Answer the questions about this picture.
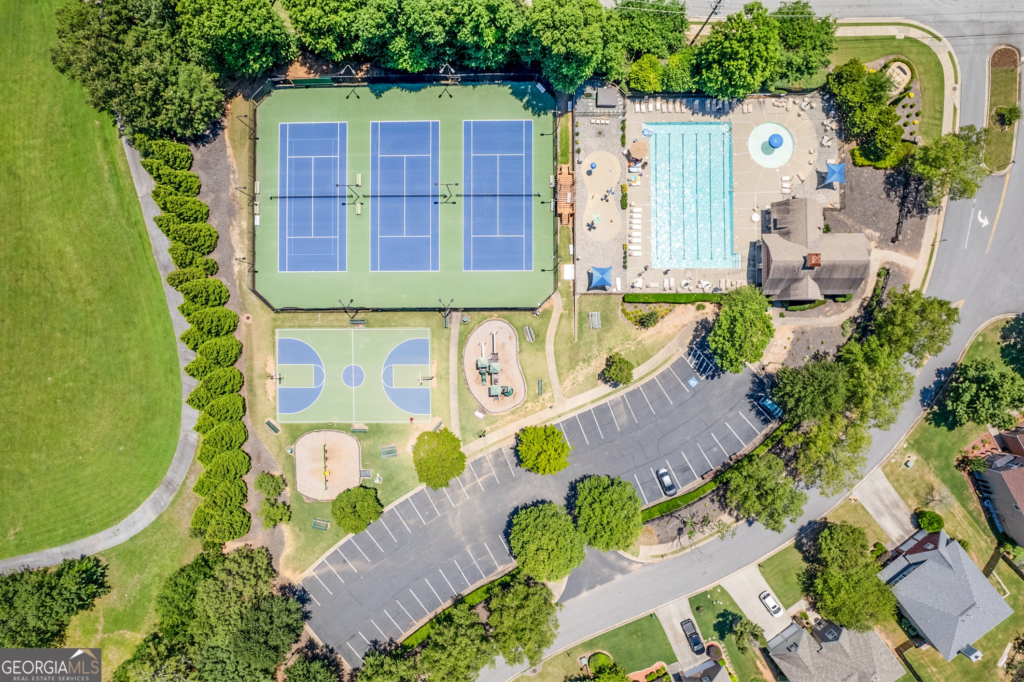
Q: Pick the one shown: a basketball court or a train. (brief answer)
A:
basketball court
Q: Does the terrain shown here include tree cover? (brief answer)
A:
Yes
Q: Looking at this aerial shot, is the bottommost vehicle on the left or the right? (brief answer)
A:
right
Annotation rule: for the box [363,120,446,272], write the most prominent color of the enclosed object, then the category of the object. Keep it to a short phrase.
blue tennis court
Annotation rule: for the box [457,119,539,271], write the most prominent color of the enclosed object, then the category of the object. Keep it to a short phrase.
blue tennis court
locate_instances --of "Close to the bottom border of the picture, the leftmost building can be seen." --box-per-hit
[679,653,733,682]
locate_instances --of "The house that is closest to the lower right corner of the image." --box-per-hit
[882,526,1014,663]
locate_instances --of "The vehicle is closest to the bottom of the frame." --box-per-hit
[679,619,707,658]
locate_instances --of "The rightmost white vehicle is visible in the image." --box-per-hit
[759,591,786,621]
